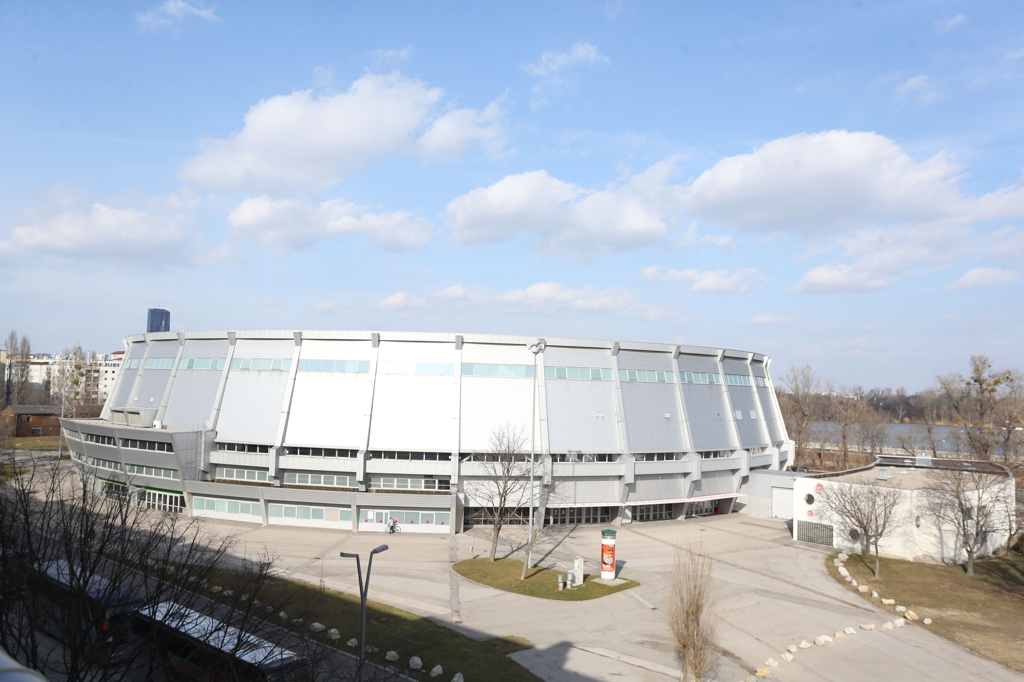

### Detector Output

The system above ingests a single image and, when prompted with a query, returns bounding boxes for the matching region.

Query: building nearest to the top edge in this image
[150,301,174,332]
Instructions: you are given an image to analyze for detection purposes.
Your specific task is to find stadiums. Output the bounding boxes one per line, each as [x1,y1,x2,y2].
[98,330,796,528]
